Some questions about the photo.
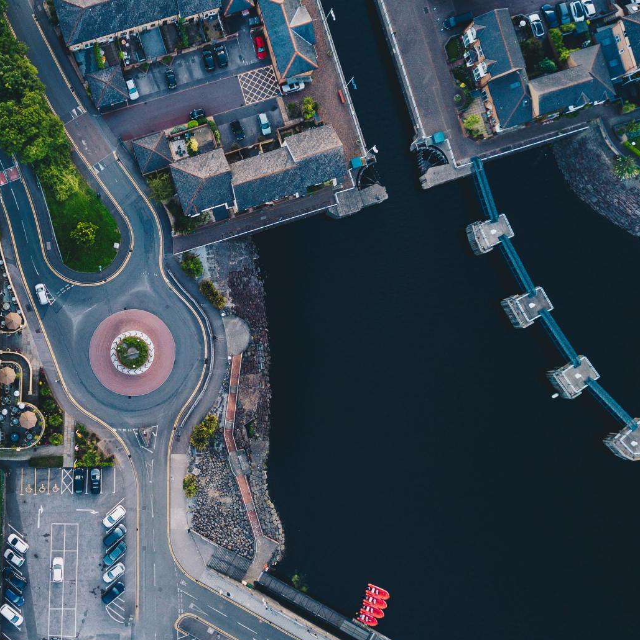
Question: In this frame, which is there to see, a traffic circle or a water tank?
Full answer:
Visible in the photo is a traffic circle.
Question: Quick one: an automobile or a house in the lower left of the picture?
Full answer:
The feature located in the lower left of the picture is an automobile.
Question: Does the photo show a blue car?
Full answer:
Yes, the frame does contain a blue car.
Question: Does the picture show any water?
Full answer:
Yes, there is water in the image.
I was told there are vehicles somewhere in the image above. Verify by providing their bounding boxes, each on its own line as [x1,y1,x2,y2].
[103,506,128,530]
[104,542,127,564]
[569,0,586,22]
[253,34,268,61]
[541,2,558,27]
[2,547,27,570]
[3,586,28,609]
[582,0,597,20]
[256,111,273,136]
[7,533,30,555]
[103,562,126,584]
[0,603,26,627]
[279,83,308,97]
[555,0,574,28]
[187,107,209,120]
[51,557,64,582]
[90,467,103,495]
[245,14,260,27]
[2,565,28,591]
[101,523,128,548]
[528,13,546,36]
[72,466,85,494]
[100,581,127,605]
[125,75,140,100]
[35,281,50,307]
[230,117,246,142]
[164,68,177,90]
[202,47,217,72]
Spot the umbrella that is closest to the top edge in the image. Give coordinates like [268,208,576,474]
[5,312,22,330]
